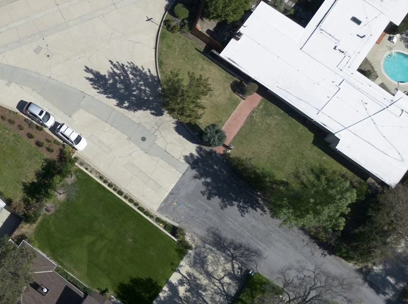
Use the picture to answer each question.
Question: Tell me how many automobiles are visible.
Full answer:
Altogether the scene contains 2 automobiles.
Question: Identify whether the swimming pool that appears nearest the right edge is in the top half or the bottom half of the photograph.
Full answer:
You can find the swimming pool that appears nearest the right edge in the top half.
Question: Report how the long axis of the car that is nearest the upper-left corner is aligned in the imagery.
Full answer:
The car that is nearest the upper-left corner has been laid out at an angle relative to the frame.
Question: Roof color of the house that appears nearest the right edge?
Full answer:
The roof over the house that appears nearest the right edge appears white.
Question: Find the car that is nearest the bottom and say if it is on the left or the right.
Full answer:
You can find the car that is nearest the bottom on the left side of the picture.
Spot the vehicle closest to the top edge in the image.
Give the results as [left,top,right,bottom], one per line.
[22,98,58,130]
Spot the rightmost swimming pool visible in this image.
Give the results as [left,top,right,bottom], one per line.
[379,46,408,86]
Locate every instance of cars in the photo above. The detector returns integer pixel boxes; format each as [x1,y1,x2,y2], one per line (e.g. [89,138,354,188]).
[54,120,89,151]
[22,98,58,130]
